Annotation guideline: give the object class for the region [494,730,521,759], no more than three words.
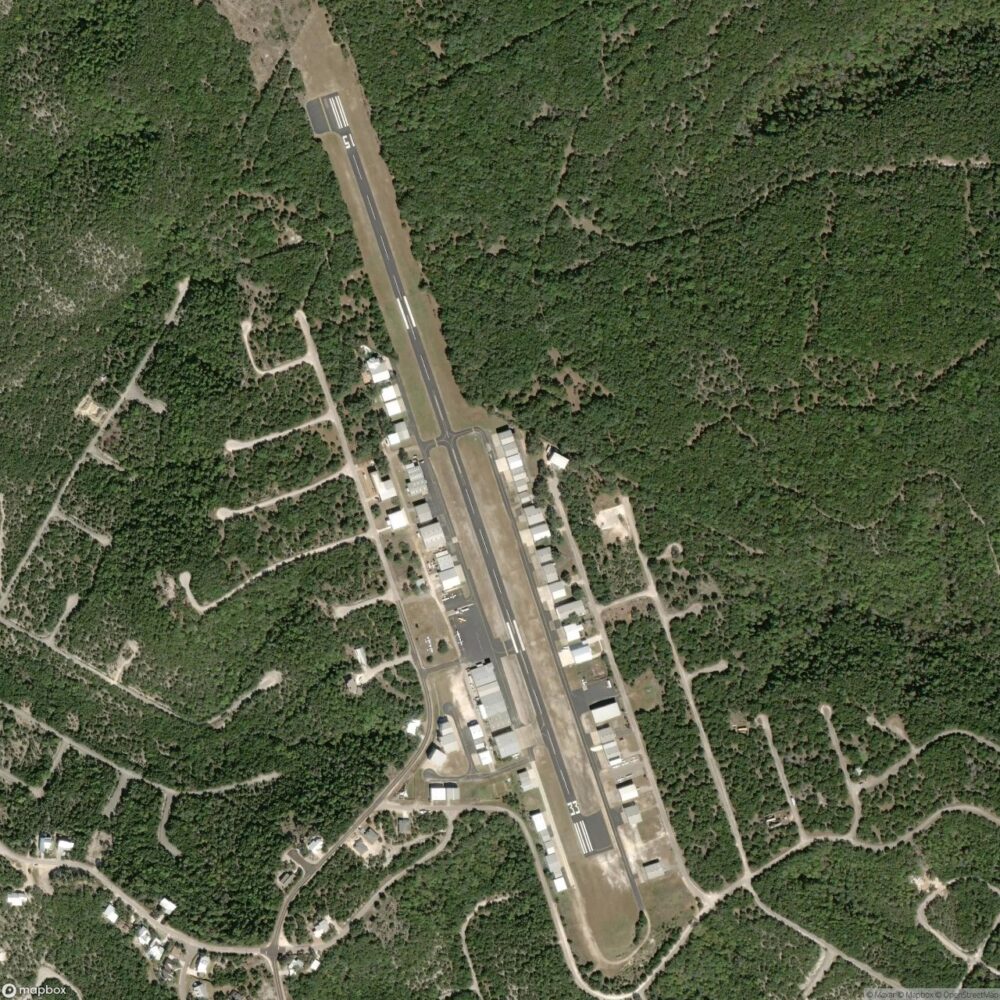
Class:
hangar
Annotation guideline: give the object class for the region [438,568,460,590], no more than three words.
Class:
hangar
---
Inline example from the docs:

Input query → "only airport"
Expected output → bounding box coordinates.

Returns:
[291,6,697,978]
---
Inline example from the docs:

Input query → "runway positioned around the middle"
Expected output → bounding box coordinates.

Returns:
[331,94,593,854]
